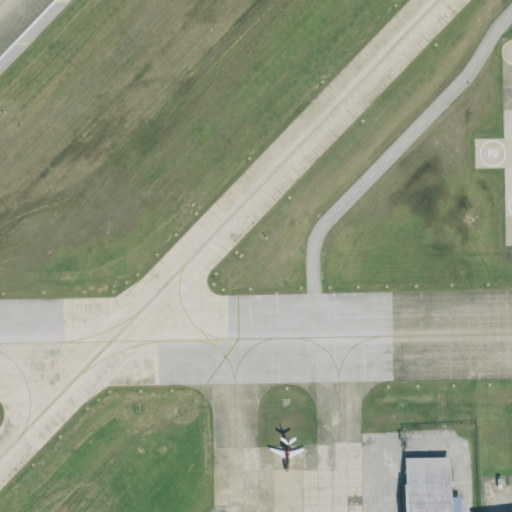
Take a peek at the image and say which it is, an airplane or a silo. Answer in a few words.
airplane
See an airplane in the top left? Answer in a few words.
No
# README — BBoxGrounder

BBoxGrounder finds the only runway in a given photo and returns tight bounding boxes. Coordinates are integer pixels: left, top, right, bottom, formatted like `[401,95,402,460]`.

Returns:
[0,0,72,76]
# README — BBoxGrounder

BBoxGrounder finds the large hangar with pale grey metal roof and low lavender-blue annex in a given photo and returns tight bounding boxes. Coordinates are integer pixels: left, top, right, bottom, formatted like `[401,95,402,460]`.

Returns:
[406,458,462,512]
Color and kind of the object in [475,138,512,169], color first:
white helipad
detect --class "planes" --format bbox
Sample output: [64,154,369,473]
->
[270,436,305,471]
